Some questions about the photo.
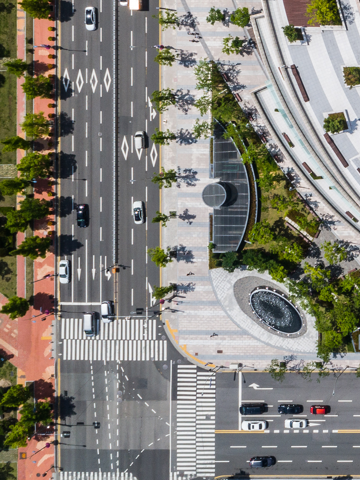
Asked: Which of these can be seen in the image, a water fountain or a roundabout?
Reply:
water fountain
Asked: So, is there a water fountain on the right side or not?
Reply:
Yes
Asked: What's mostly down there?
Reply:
paved ground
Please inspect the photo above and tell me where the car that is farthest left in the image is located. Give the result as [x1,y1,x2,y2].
[59,260,72,284]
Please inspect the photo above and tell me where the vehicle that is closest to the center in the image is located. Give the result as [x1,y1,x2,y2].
[132,200,145,225]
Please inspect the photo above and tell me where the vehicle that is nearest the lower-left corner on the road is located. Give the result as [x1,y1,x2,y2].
[84,311,98,336]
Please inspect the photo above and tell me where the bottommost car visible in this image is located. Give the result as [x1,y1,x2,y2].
[251,455,275,469]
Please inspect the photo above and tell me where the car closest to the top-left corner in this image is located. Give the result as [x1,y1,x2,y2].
[84,6,98,31]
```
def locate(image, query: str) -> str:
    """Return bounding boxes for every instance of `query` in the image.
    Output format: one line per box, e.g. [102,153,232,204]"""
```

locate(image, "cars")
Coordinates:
[135,130,146,150]
[251,455,275,469]
[84,6,98,31]
[279,403,304,415]
[102,299,115,323]
[77,203,90,227]
[243,419,267,431]
[120,0,129,7]
[285,418,307,430]
[132,200,145,225]
[84,311,98,336]
[240,402,268,417]
[59,260,72,284]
